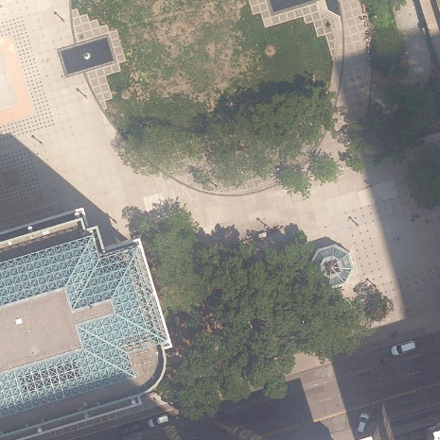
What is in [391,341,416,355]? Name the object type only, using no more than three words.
vehicle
